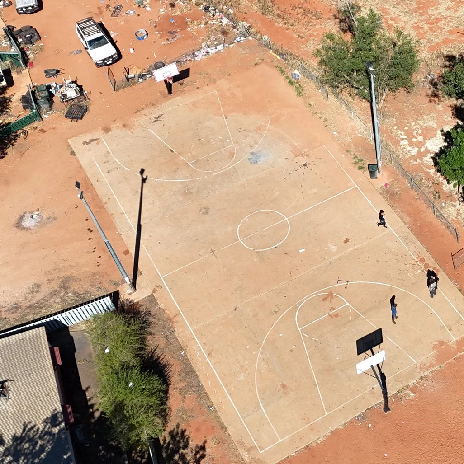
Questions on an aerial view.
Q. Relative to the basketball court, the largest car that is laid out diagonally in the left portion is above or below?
above it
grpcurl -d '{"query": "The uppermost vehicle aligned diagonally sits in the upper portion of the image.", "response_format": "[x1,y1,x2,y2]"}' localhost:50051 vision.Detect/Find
[76,17,118,68]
